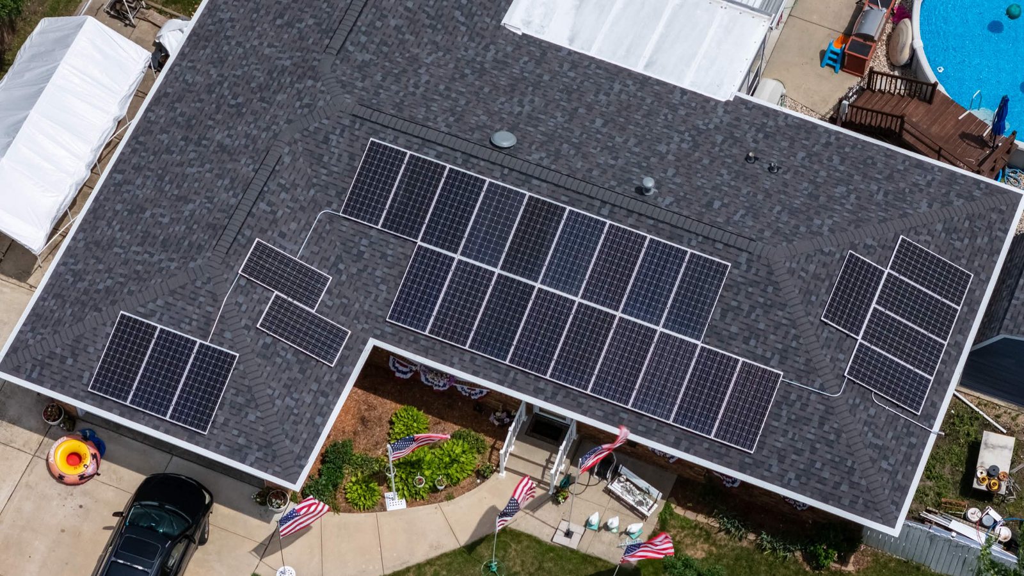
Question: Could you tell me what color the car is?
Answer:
black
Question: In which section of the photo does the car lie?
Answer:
bottom left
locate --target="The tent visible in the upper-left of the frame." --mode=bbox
[0,13,156,280]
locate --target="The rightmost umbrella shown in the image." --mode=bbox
[985,92,1011,154]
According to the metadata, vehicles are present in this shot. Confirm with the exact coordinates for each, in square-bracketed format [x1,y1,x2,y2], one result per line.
[88,468,217,576]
